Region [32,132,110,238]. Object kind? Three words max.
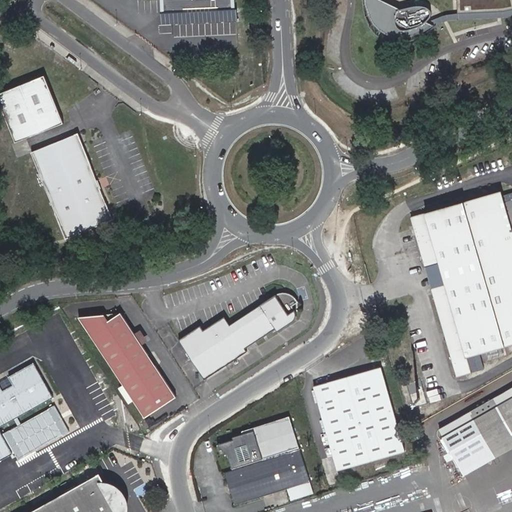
building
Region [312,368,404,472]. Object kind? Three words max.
building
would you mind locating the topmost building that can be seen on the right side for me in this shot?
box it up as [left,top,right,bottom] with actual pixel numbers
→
[362,0,432,37]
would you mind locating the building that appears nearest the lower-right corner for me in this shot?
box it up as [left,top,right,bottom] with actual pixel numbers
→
[438,388,512,477]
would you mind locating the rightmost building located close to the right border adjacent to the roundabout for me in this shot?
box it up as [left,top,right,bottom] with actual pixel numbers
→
[410,192,512,378]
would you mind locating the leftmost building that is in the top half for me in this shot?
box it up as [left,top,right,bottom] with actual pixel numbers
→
[0,76,62,143]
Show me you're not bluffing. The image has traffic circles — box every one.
[205,76,354,257]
